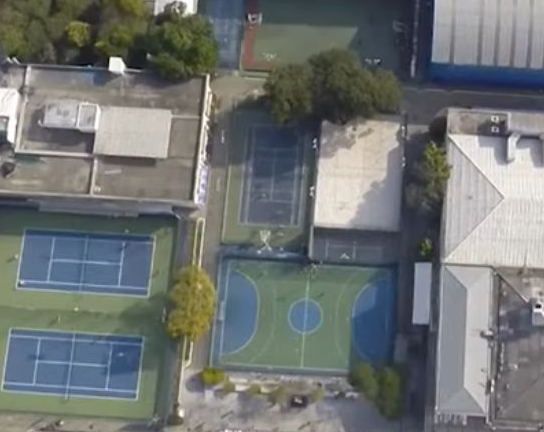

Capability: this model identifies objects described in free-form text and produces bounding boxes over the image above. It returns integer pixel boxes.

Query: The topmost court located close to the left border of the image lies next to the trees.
[0,210,179,316]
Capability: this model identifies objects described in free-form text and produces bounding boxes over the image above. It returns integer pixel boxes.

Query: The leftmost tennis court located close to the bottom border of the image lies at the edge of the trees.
[0,307,172,421]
